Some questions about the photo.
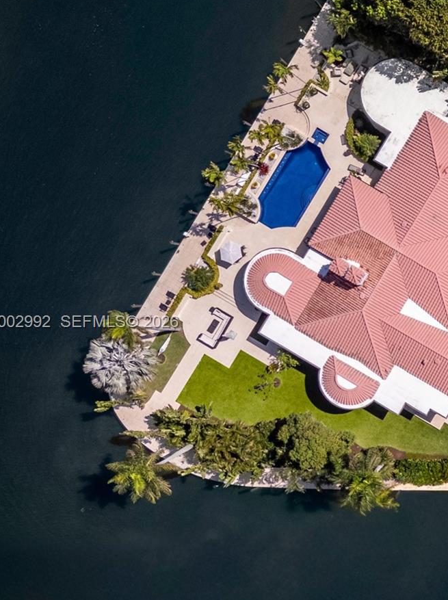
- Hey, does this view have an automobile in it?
No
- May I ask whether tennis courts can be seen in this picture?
No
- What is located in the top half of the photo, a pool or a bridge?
pool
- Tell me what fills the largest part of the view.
water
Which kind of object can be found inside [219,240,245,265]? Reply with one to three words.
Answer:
umbrella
